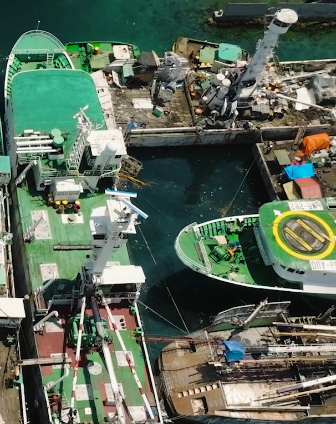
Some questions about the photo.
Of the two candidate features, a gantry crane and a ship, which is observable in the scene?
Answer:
ship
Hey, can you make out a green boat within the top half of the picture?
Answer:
Yes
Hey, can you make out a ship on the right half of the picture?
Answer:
Yes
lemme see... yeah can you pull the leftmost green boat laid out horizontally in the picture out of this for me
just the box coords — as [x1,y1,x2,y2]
[64,41,139,77]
